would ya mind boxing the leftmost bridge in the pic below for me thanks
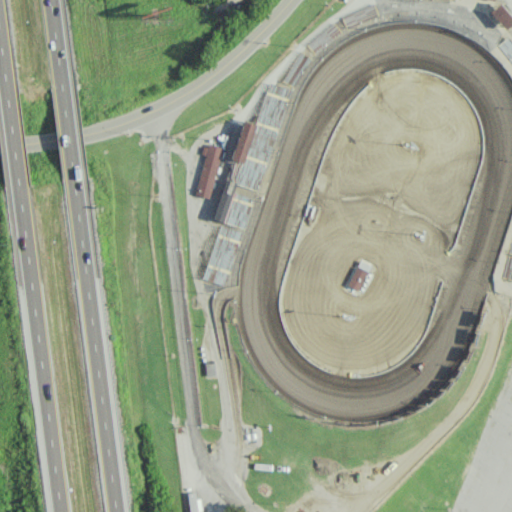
[0,98,33,202]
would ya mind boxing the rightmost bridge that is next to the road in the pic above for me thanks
[50,86,89,190]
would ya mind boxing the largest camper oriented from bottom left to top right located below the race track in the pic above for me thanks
[384,460,400,474]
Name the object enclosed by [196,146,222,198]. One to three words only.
building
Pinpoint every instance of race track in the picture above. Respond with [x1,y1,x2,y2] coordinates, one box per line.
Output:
[238,23,512,420]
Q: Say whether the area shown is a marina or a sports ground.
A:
sports ground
